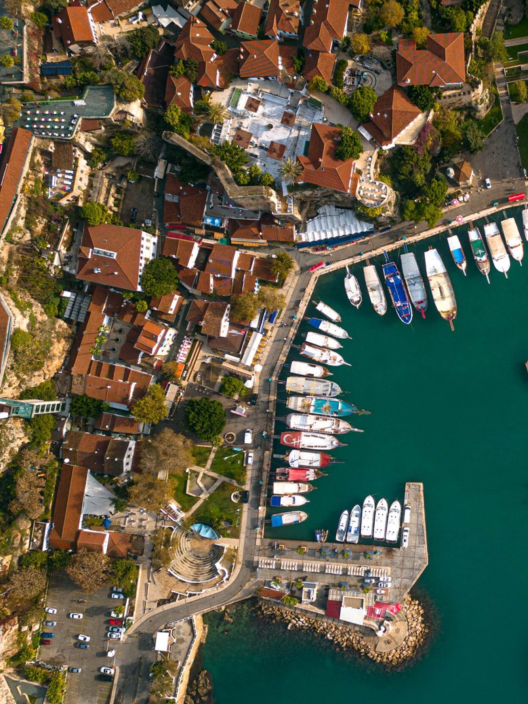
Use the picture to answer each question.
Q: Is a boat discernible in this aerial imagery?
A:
Yes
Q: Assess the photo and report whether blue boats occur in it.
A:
Yes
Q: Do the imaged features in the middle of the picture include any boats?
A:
Yes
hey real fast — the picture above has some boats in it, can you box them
[494,206,522,266]
[361,255,383,315]
[296,328,343,347]
[287,339,351,364]
[336,510,348,541]
[277,356,333,377]
[523,205,528,236]
[361,495,375,538]
[275,372,348,397]
[374,499,387,541]
[312,295,342,321]
[416,238,455,330]
[263,511,307,528]
[448,224,467,275]
[483,206,507,278]
[261,495,309,507]
[396,241,424,318]
[270,430,345,450]
[273,448,336,468]
[338,264,360,312]
[268,467,328,481]
[385,501,400,543]
[346,505,361,543]
[274,390,370,416]
[468,218,489,284]
[302,313,351,339]
[263,482,315,495]
[376,249,408,323]
[274,412,362,435]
